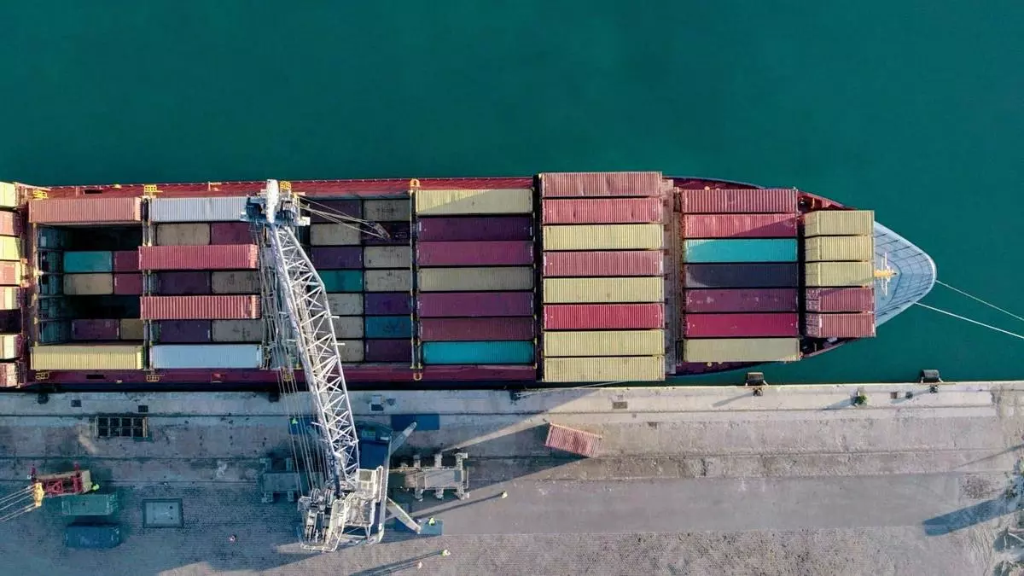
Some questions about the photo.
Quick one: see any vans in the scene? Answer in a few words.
No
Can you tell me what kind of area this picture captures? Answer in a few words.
port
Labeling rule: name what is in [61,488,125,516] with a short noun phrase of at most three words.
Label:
shipping container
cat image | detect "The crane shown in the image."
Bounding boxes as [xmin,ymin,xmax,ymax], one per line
[240,178,470,554]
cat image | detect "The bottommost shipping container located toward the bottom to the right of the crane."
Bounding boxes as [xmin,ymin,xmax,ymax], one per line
[545,420,602,456]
